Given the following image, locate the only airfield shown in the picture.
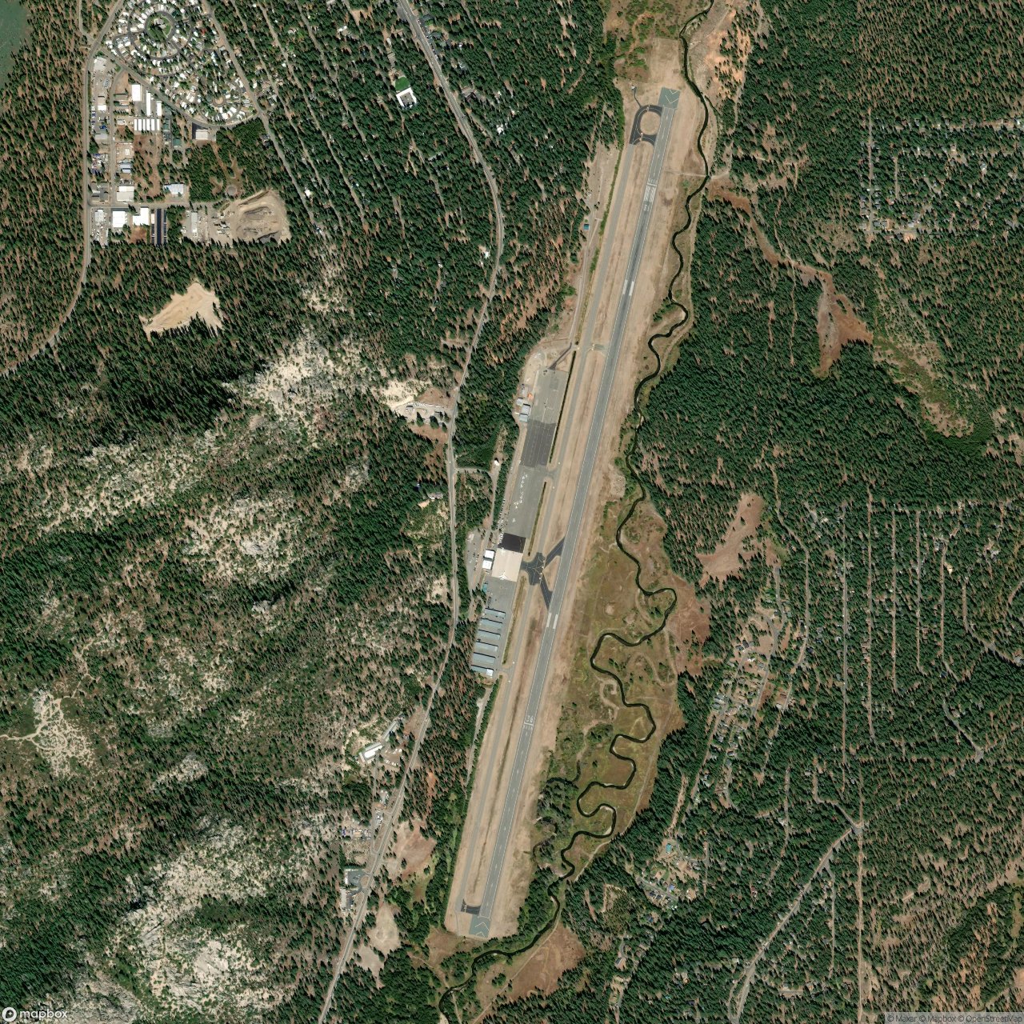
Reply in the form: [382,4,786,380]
[455,88,681,937]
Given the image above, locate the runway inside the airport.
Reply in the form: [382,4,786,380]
[479,107,674,918]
